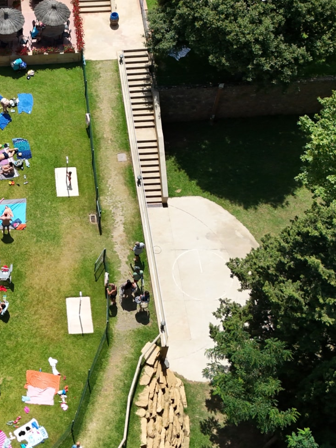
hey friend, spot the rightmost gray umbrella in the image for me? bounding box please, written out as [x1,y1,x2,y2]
[34,2,71,30]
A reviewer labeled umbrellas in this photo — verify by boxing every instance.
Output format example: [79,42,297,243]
[34,2,71,30]
[0,12,25,38]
